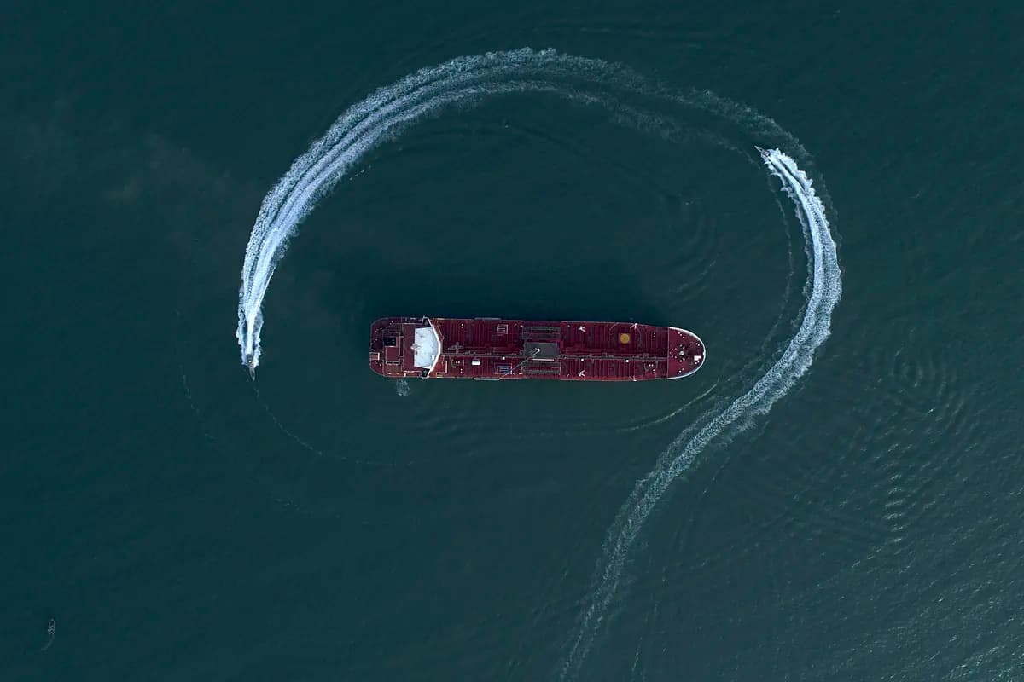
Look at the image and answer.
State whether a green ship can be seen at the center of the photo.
No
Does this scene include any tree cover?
No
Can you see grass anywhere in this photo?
No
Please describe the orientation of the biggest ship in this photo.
from left to right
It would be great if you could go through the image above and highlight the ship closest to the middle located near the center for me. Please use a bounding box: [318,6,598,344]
[369,316,705,381]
